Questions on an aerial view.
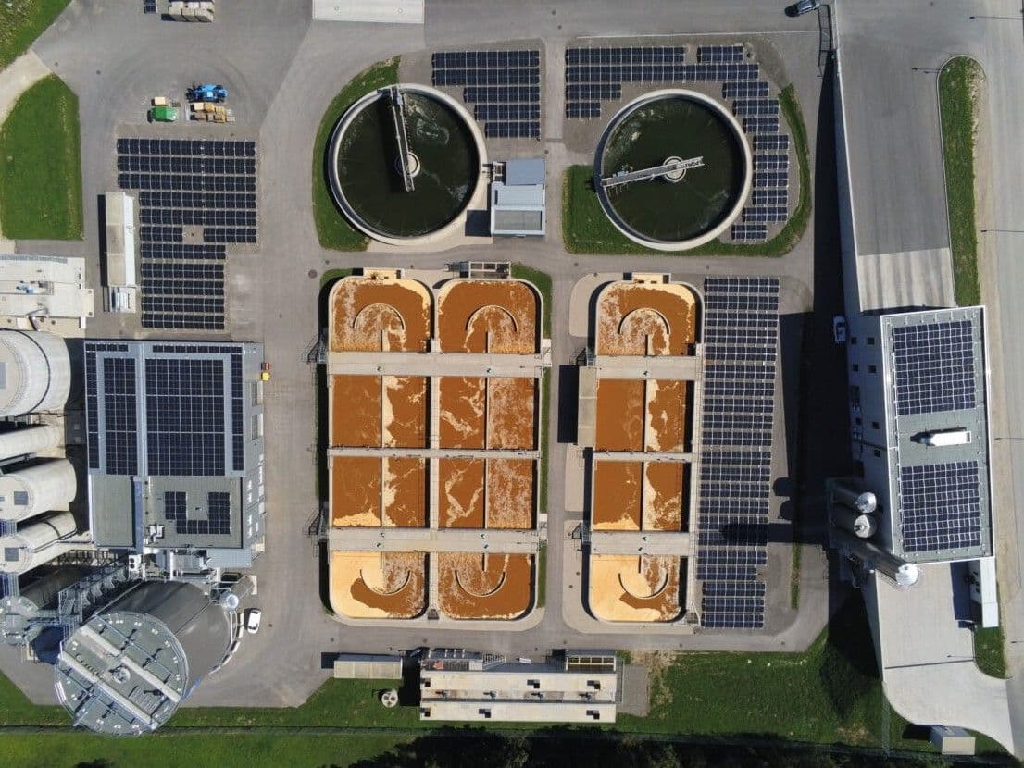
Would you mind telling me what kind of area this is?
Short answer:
industrial area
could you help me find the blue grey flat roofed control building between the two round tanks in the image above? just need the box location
[491,159,545,237]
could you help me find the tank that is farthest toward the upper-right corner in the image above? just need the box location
[592,88,754,253]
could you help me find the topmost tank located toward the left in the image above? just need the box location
[327,82,488,246]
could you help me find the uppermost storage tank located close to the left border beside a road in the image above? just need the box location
[0,327,71,417]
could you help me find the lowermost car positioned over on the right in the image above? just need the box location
[832,315,847,344]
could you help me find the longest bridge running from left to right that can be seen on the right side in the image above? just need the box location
[600,155,704,186]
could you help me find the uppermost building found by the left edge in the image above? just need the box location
[0,253,100,318]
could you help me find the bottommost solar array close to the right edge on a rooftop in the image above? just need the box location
[900,460,982,552]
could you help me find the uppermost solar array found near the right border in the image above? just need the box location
[894,320,976,414]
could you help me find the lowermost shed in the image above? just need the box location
[928,724,976,755]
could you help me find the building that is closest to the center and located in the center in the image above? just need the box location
[575,366,597,448]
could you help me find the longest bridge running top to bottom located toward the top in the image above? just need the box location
[391,85,414,191]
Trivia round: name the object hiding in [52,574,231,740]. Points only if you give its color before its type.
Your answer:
gray storage tank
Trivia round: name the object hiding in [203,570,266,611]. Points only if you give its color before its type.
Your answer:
gray silo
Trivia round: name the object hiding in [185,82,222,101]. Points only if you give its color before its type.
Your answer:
blue work vehicle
